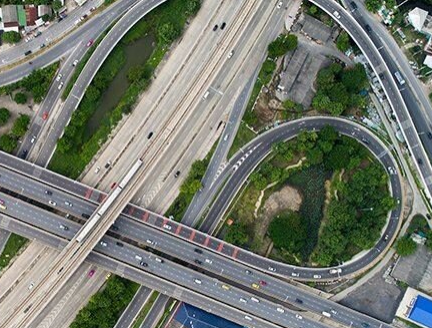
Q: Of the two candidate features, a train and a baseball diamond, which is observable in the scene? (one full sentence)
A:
This aerial view contains a train.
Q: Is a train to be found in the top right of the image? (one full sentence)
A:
No, there's no train to be seen in the top right of the image.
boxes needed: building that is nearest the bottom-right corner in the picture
[389,287,432,328]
